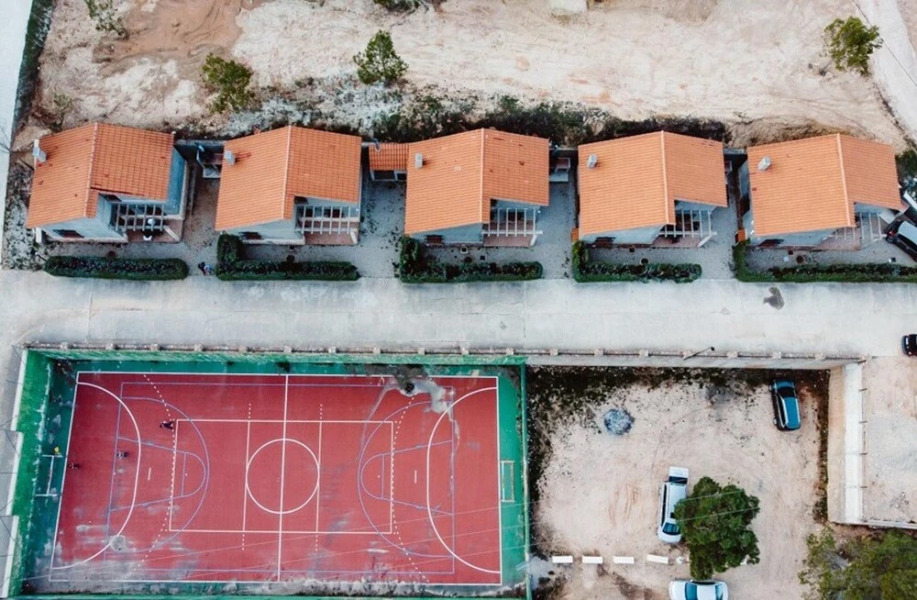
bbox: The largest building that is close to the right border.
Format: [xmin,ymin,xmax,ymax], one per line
[734,133,903,253]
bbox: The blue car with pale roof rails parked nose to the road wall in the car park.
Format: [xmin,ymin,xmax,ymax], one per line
[770,381,802,432]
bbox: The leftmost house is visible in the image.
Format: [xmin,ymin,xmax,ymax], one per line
[25,122,187,243]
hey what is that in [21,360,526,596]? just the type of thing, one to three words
sports court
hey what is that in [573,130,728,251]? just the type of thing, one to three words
house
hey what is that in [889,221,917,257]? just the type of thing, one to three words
car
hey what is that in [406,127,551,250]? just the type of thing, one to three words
house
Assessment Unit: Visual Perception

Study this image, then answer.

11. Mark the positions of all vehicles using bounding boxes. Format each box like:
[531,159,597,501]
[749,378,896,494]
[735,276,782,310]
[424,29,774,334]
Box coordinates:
[670,579,729,600]
[656,468,688,542]
[770,381,802,432]
[889,221,917,257]
[903,334,917,357]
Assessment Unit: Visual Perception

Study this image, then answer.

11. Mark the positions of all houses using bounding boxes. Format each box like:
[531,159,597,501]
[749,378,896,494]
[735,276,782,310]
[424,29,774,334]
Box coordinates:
[734,133,903,253]
[25,122,187,243]
[406,127,551,250]
[216,124,367,246]
[573,130,728,251]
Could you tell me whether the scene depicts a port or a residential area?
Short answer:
residential area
